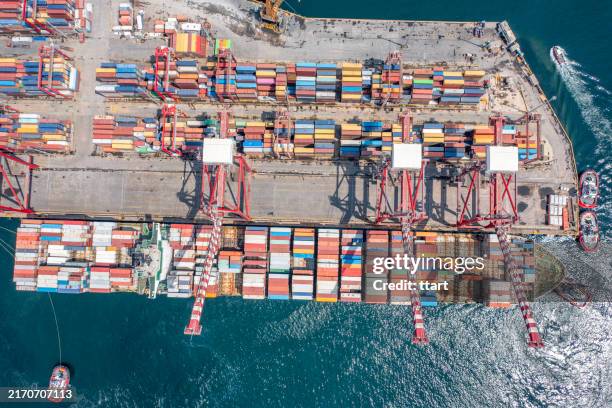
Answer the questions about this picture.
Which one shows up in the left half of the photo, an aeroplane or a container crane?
container crane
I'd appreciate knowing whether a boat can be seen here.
Yes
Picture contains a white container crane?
Yes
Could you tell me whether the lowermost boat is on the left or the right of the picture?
left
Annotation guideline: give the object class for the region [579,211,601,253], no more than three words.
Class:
boat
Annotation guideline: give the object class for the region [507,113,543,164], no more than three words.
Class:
crane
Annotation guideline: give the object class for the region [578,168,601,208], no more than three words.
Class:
boat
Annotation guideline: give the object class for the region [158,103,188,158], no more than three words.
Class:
crane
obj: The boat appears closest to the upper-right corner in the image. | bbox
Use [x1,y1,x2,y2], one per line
[552,47,565,66]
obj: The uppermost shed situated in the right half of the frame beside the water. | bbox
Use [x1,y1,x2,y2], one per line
[494,19,516,49]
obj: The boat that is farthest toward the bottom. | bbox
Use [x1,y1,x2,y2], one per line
[47,363,72,405]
